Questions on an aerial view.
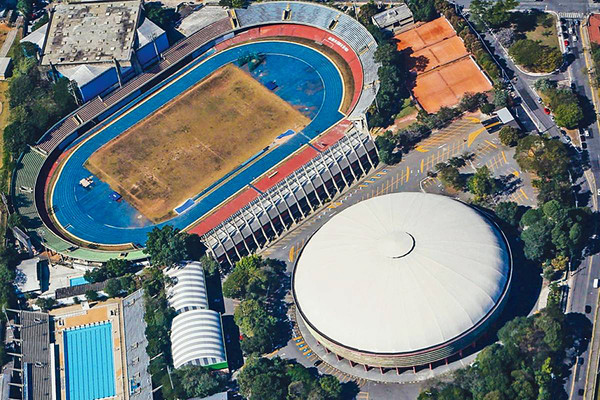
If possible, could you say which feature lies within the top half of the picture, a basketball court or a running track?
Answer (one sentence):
The one visible within the top half of the picture is a running track.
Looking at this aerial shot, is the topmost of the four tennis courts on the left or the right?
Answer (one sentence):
You can find the topmost of the four tennis courts on the right side of the picture.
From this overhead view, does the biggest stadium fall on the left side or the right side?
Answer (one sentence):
The biggest stadium appears in the right half of the scene.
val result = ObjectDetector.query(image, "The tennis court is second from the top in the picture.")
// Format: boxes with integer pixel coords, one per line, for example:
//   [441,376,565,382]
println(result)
[408,35,468,74]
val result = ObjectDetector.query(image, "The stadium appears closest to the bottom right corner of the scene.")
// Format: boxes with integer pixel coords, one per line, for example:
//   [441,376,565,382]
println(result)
[288,193,524,381]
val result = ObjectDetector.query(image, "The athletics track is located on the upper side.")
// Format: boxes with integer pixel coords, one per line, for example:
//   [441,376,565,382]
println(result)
[35,26,368,248]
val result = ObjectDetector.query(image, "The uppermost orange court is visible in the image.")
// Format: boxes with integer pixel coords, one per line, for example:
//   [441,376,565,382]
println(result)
[394,17,455,53]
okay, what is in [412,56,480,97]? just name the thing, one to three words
tennis court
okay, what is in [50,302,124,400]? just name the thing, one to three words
swimming pool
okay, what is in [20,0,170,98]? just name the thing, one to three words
building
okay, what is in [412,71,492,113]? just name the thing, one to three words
tennis court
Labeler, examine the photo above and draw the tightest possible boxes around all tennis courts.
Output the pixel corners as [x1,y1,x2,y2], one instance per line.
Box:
[408,35,468,74]
[412,71,492,113]
[412,56,480,97]
[394,17,455,53]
